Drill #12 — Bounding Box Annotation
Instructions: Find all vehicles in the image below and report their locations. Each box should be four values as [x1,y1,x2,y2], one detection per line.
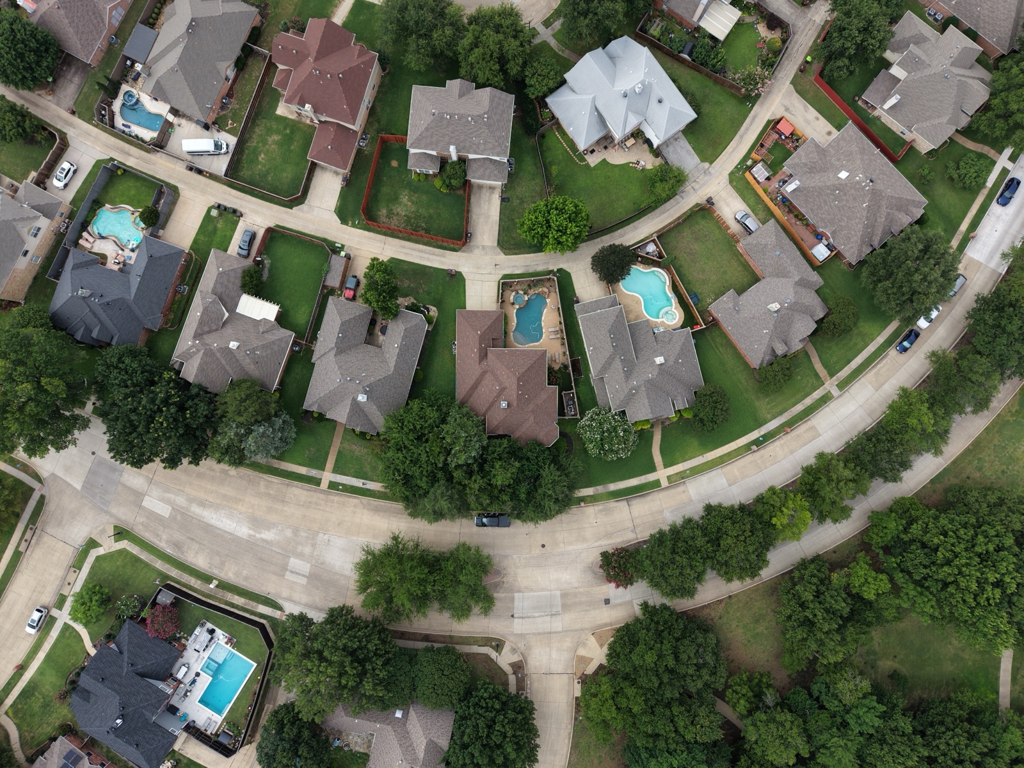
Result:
[344,274,360,301]
[55,160,77,189]
[916,302,944,329]
[734,208,758,236]
[996,176,1019,207]
[474,514,510,529]
[894,328,921,354]
[179,137,227,155]
[26,604,49,634]
[942,272,969,302]
[237,228,256,259]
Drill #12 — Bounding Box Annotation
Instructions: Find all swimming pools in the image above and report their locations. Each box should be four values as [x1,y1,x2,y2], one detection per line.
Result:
[195,639,259,721]
[511,291,548,346]
[118,87,167,134]
[620,265,678,325]
[89,206,145,250]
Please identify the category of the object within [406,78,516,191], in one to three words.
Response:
house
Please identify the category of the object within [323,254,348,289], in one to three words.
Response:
shed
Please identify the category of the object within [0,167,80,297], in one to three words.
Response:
house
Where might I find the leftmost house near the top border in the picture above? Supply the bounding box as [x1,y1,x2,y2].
[33,0,134,69]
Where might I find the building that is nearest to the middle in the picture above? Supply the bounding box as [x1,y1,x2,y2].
[456,309,559,441]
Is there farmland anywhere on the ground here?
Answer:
No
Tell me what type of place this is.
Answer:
residential area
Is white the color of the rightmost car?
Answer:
No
